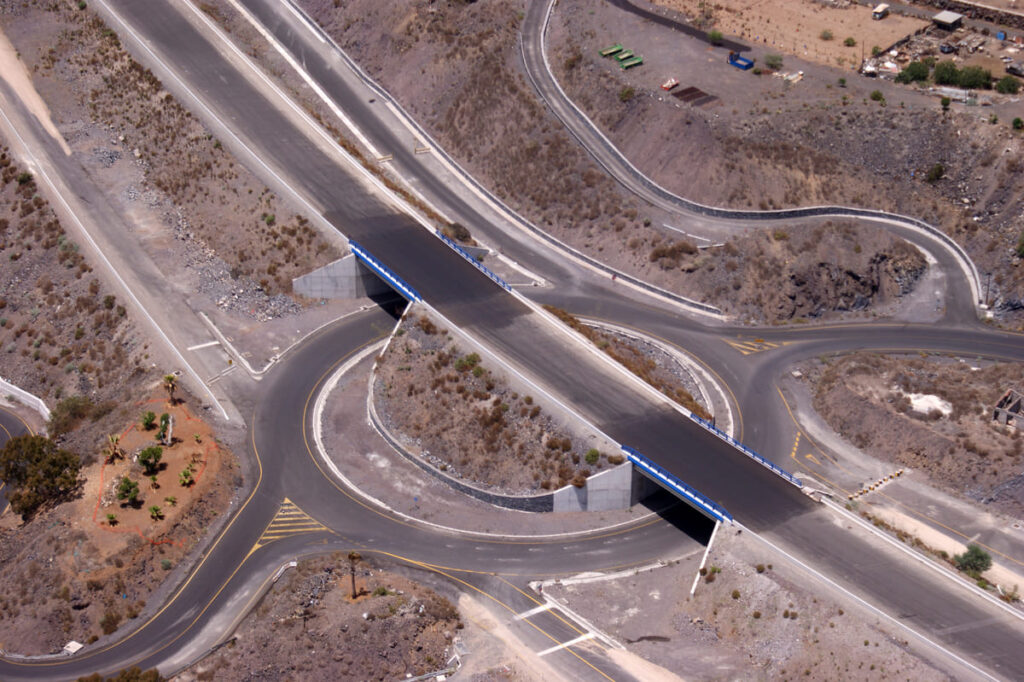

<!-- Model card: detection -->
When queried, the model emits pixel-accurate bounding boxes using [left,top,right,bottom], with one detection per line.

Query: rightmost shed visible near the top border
[933,13,965,35]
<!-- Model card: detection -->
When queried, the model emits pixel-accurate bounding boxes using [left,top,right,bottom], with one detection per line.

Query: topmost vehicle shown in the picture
[870,5,888,20]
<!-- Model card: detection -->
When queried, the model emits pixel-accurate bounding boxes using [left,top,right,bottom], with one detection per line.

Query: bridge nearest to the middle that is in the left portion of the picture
[293,224,519,399]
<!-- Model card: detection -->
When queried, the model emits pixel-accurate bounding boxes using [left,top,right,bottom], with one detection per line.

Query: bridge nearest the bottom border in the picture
[552,408,804,600]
